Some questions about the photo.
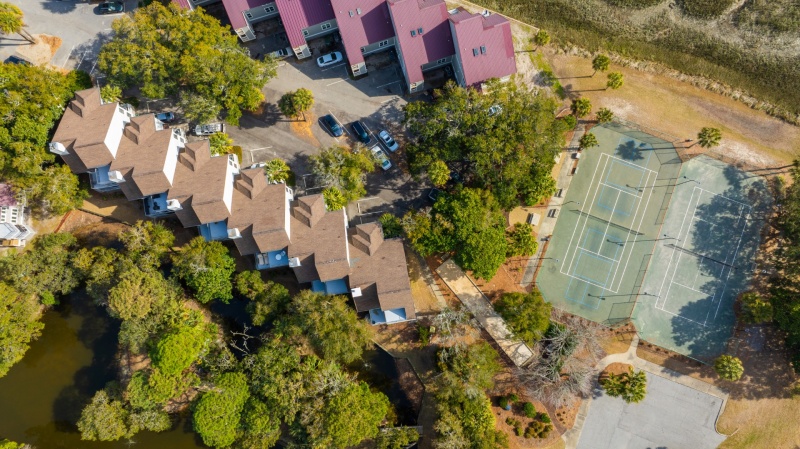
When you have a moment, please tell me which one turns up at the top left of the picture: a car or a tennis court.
car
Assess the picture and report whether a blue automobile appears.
Yes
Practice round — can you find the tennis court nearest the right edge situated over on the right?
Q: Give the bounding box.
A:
[630,154,774,364]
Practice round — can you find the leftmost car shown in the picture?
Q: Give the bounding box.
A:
[5,53,34,69]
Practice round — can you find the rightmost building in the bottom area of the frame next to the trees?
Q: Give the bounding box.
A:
[351,222,414,326]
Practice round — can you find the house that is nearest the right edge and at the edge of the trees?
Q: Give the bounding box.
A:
[446,0,517,99]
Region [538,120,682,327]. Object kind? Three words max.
tennis court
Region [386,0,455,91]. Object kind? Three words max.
house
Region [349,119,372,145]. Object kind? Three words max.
car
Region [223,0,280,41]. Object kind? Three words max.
house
